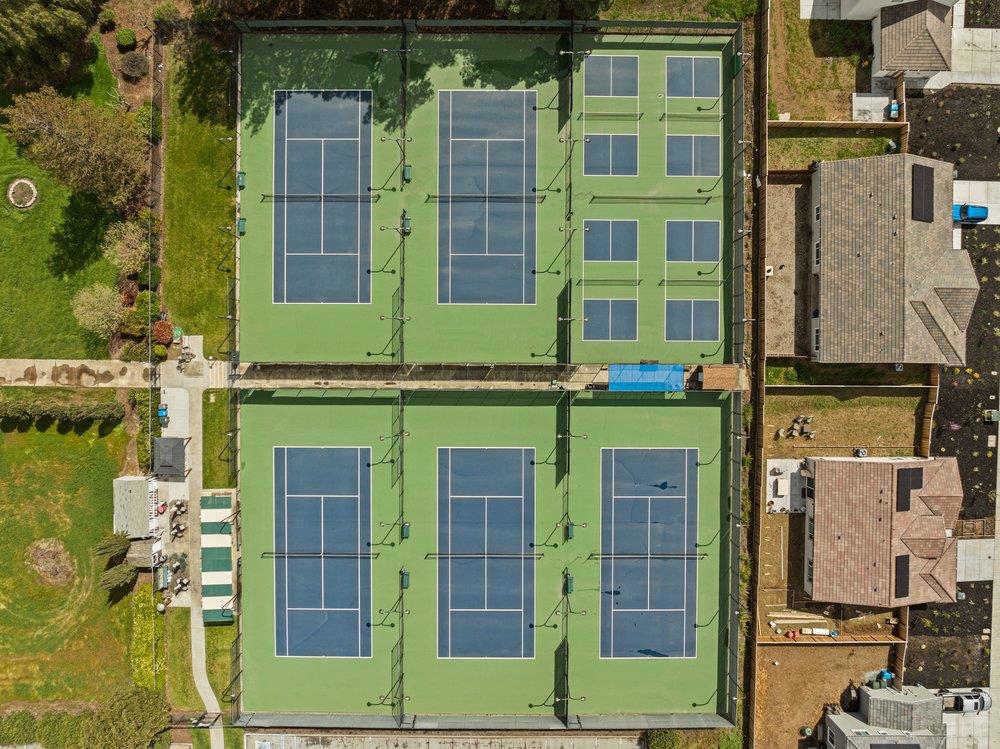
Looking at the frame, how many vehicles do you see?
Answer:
2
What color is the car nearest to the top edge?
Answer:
blue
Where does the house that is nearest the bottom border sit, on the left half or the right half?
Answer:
right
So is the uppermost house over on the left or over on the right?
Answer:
right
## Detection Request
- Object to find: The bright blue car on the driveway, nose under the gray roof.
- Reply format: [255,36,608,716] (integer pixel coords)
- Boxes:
[953,204,987,225]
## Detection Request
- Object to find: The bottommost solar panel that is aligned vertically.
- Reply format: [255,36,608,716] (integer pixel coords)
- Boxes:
[895,555,909,598]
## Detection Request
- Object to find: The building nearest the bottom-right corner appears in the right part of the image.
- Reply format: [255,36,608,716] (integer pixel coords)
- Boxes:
[826,687,950,749]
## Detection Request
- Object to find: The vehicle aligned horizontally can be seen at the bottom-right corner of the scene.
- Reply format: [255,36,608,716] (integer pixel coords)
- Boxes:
[935,689,987,715]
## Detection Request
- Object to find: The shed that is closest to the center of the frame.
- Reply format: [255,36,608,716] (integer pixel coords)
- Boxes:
[697,363,739,391]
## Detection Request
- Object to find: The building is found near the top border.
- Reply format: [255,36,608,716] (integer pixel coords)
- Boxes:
[841,0,955,71]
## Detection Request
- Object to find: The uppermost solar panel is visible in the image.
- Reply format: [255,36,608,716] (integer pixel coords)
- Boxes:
[911,164,934,223]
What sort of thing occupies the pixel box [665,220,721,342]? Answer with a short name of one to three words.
sports court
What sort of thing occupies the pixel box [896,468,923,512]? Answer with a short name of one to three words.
solar panel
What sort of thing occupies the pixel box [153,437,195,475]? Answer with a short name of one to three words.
gazebo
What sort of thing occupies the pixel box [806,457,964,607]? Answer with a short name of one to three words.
house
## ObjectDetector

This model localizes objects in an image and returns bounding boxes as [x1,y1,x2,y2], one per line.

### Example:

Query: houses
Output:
[812,152,980,366]
[841,0,955,71]
[806,457,964,607]
[826,687,950,749]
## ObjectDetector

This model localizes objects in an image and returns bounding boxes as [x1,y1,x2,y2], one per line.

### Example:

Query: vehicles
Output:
[935,689,987,715]
[953,204,987,225]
